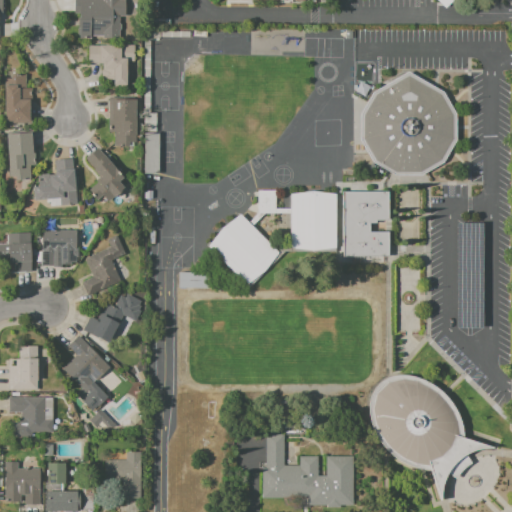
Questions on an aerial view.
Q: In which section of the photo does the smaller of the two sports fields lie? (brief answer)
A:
top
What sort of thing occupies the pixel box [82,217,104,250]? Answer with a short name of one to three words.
swimming pool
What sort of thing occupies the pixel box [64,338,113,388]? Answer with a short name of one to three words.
house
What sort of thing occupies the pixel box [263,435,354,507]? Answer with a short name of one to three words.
building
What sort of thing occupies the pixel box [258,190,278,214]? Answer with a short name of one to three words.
building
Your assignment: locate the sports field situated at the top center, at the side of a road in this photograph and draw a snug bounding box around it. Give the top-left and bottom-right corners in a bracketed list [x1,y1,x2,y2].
[184,55,316,183]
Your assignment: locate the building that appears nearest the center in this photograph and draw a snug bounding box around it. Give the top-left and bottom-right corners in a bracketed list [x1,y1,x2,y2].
[208,214,280,284]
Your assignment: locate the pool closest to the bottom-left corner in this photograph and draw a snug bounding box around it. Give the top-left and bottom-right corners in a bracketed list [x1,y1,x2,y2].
[56,442,84,460]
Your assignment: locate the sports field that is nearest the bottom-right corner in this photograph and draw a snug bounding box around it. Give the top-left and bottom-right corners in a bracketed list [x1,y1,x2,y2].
[178,290,388,392]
